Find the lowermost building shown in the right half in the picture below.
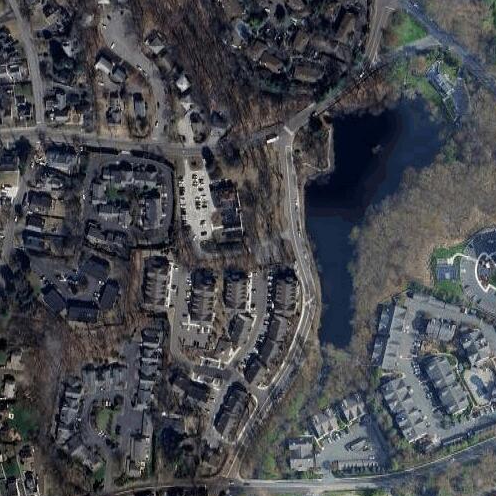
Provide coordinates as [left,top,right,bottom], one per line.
[289,440,314,471]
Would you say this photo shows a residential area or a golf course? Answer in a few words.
residential area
